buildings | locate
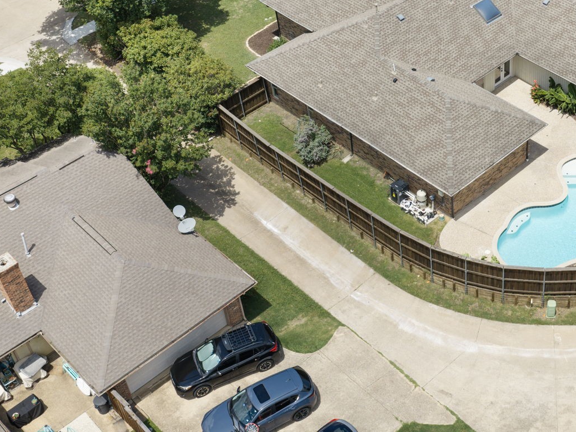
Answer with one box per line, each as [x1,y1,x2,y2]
[244,0,576,225]
[0,127,261,432]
